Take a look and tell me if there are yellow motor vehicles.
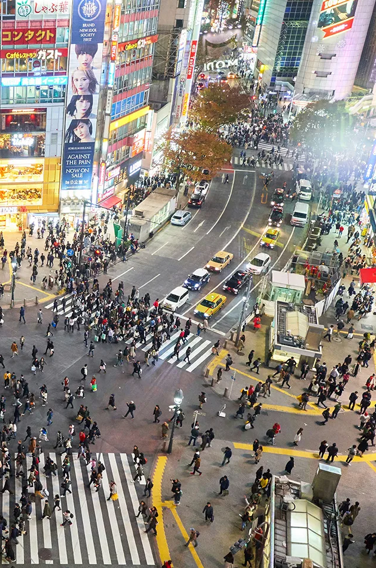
Yes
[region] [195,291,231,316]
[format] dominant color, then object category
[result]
yellow car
